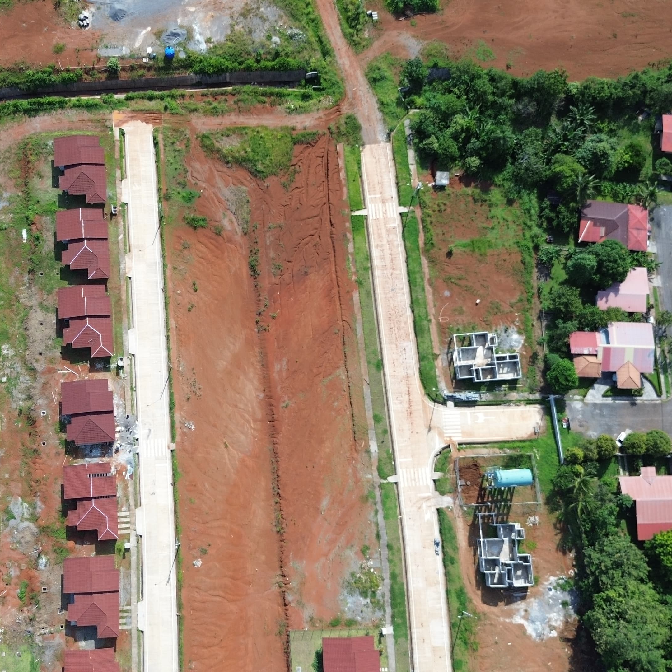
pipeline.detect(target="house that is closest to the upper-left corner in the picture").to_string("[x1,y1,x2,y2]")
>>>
[52,135,107,205]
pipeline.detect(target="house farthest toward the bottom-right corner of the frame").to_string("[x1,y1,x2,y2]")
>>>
[616,467,672,540]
